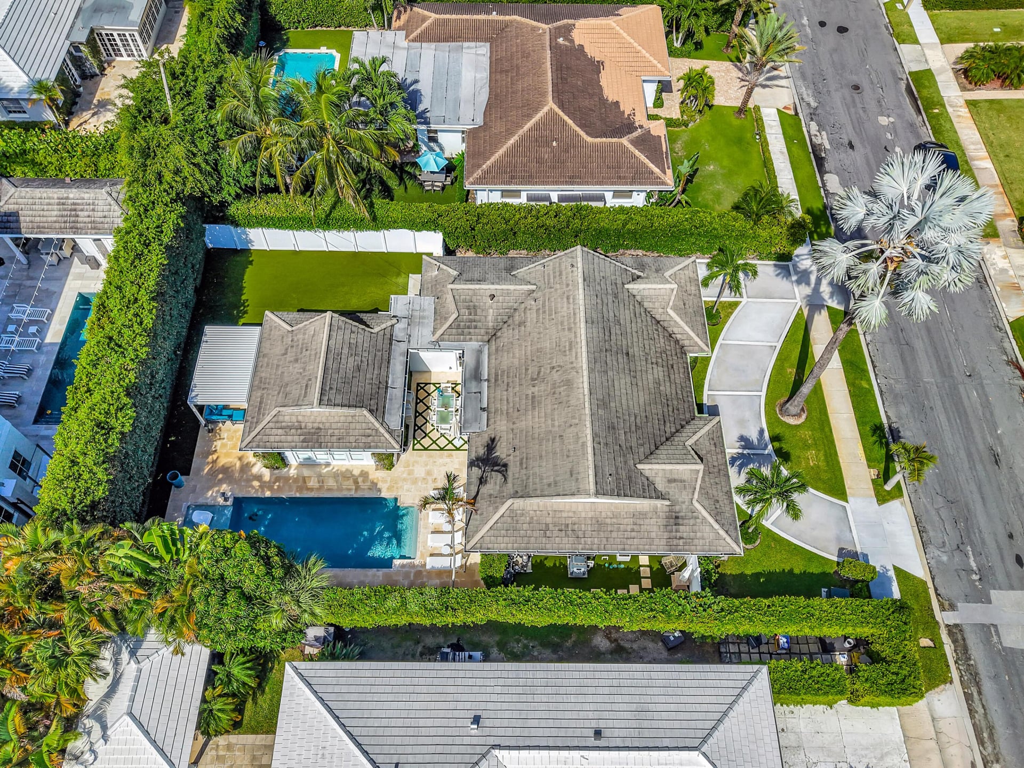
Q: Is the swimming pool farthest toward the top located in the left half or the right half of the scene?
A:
left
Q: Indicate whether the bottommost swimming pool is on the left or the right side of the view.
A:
left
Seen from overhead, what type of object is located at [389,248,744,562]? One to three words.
house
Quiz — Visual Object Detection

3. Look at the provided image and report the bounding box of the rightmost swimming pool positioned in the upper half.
[256,46,343,128]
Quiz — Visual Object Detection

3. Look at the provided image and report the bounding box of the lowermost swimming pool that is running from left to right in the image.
[176,492,423,572]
